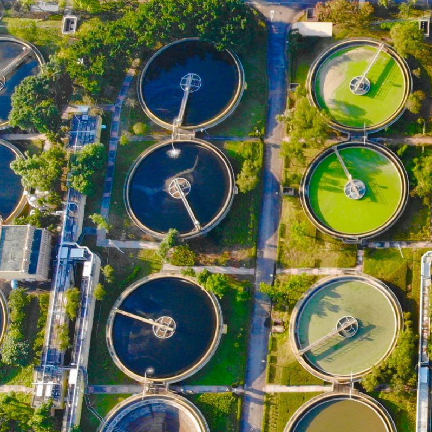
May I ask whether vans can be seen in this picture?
No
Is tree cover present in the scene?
Yes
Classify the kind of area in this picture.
industrial area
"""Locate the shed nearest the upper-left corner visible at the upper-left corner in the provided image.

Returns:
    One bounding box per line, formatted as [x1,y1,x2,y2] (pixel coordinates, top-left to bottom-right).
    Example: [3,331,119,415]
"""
[30,4,63,17]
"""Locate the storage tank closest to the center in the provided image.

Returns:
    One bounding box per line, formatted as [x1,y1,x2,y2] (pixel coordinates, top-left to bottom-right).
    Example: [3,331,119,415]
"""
[125,136,237,246]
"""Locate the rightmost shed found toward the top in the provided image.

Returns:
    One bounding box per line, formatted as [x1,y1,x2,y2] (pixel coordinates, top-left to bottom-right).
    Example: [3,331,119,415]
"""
[294,22,335,44]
